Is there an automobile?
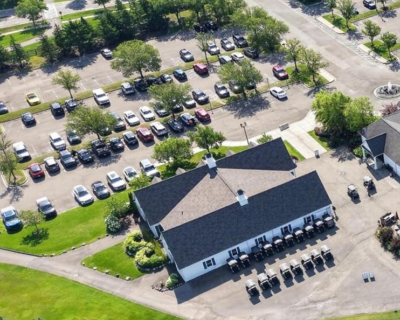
Yes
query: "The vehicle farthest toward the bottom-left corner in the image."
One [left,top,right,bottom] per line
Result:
[0,207,24,232]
